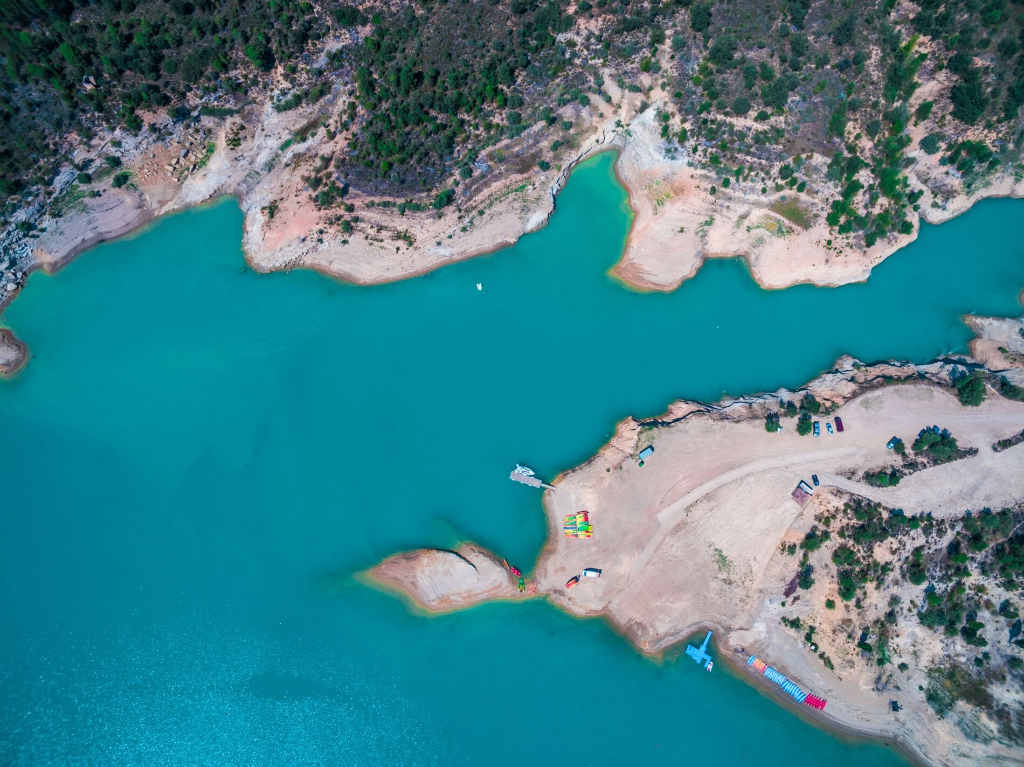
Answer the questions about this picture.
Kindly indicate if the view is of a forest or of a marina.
marina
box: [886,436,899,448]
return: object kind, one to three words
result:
vehicle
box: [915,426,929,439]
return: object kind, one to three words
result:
vehicle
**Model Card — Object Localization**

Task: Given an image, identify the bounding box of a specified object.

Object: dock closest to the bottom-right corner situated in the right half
[685,630,713,667]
